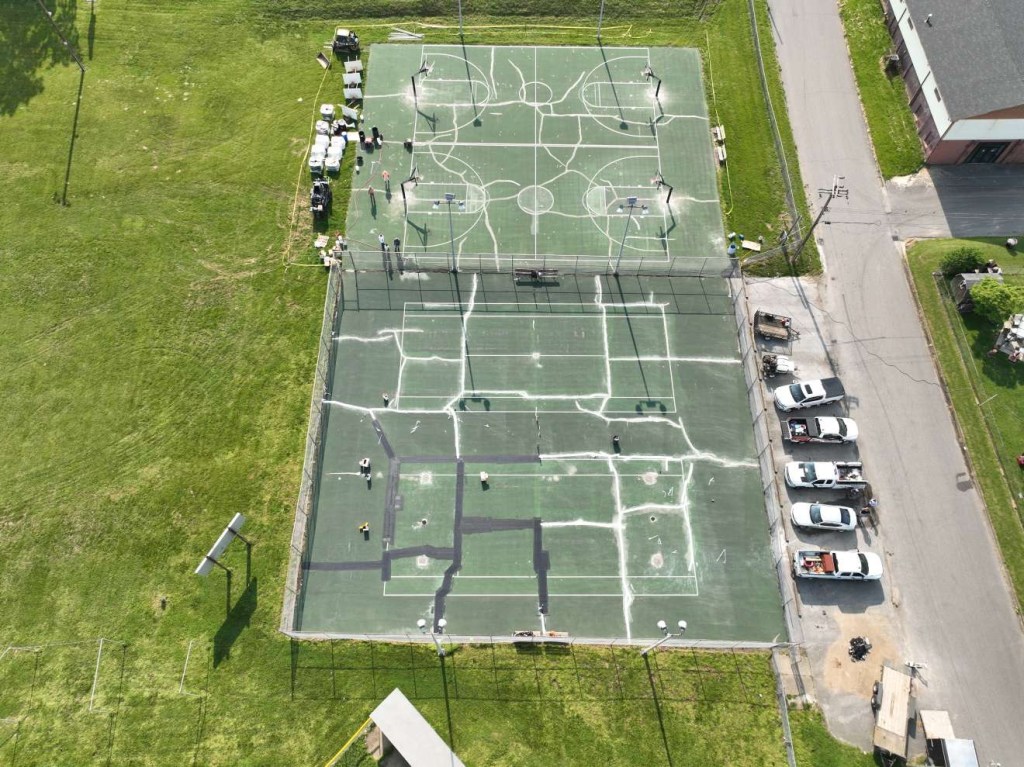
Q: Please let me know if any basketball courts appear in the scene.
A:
Yes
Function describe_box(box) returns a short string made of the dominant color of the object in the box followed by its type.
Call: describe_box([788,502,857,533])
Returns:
white car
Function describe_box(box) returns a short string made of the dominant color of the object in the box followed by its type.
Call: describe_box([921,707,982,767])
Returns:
white trailer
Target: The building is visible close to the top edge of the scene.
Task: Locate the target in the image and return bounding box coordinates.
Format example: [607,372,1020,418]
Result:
[879,0,1024,167]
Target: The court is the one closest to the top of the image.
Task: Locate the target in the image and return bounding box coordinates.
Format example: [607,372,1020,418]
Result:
[358,43,715,148]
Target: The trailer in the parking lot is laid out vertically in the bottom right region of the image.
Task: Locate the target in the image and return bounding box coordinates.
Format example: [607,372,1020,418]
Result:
[871,666,916,767]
